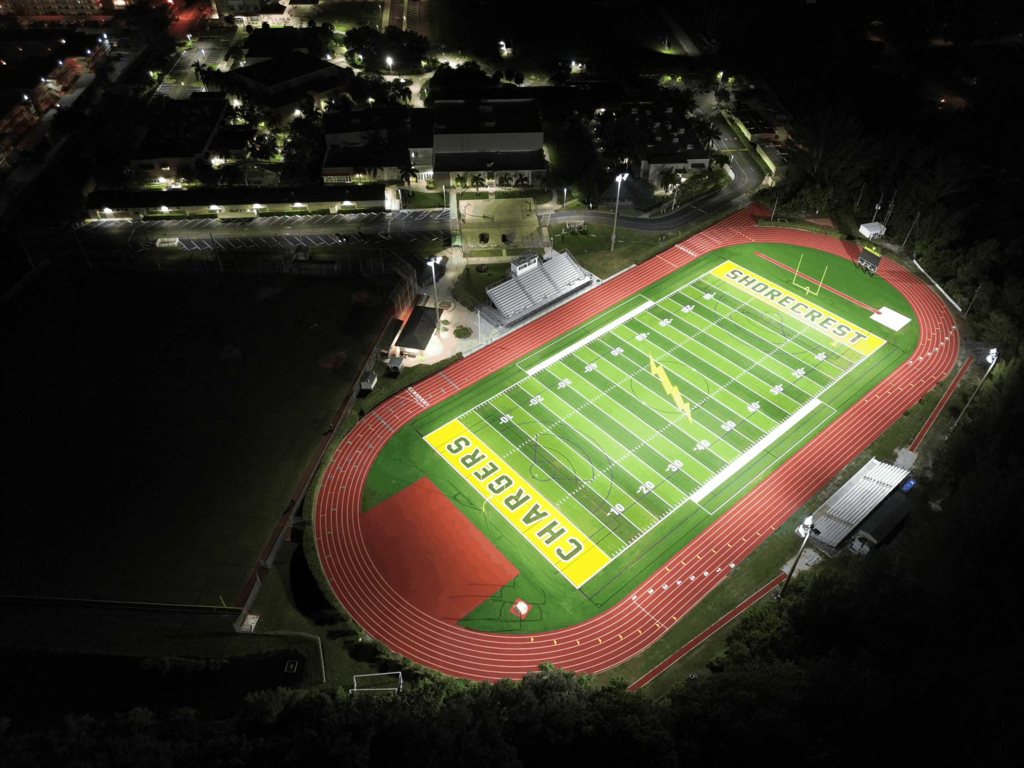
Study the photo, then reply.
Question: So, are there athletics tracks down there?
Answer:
Yes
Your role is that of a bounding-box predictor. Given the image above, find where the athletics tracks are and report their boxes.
[312,203,959,687]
